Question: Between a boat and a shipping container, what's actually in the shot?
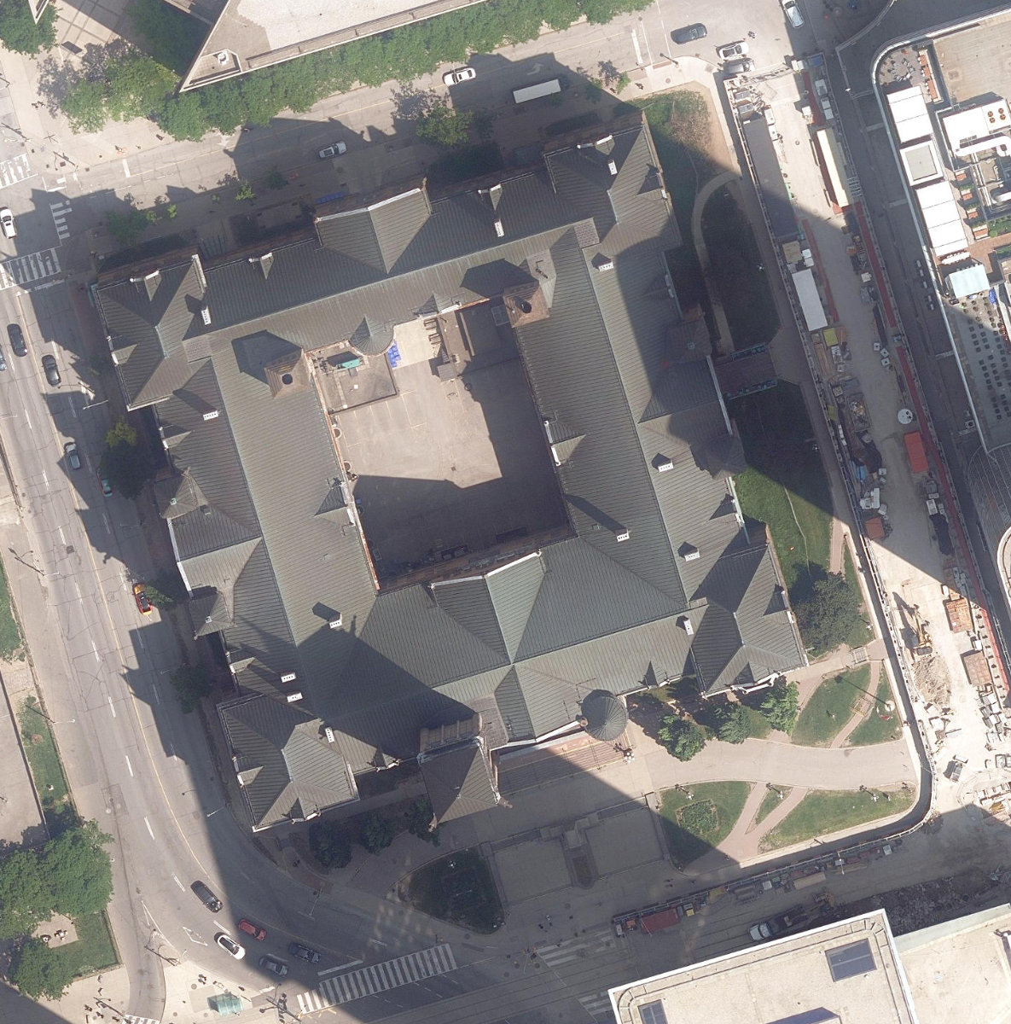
shipping container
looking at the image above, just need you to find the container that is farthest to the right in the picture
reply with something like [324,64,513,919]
[904,431,931,476]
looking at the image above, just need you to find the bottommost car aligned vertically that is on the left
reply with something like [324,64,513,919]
[134,583,152,617]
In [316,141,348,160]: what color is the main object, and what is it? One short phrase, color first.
gray vehicle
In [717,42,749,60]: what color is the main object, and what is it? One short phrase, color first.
white car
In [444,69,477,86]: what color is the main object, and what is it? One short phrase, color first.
white car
